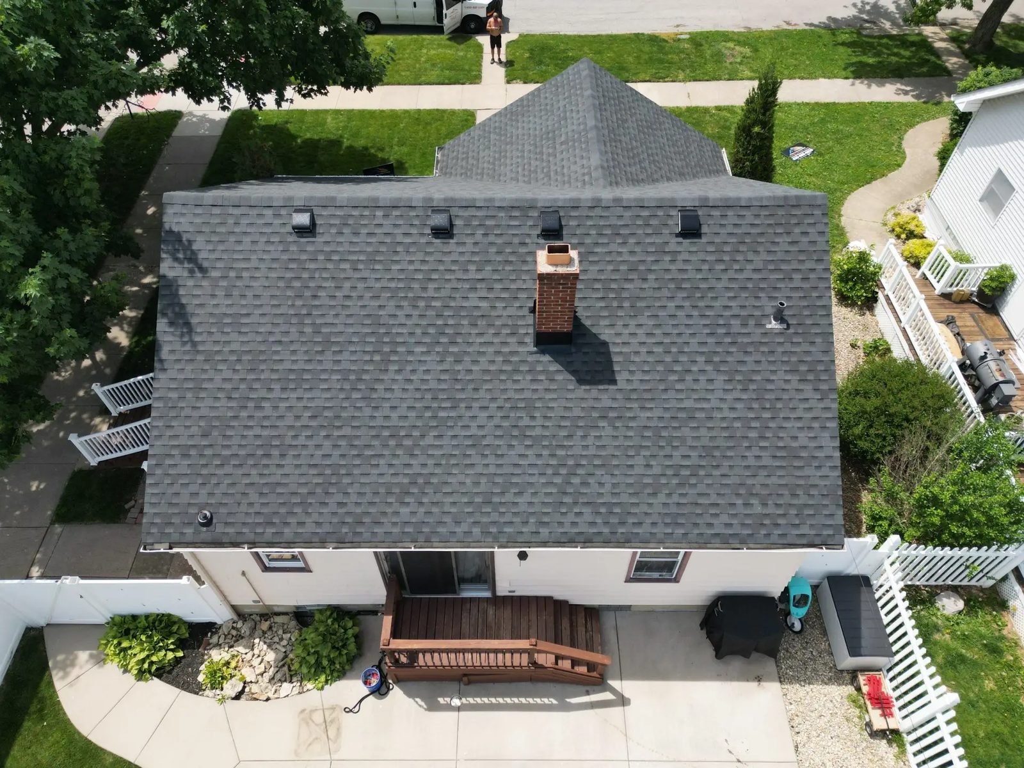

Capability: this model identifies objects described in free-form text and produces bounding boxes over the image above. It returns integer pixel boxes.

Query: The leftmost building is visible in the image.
[141,58,846,628]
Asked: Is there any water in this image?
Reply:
No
